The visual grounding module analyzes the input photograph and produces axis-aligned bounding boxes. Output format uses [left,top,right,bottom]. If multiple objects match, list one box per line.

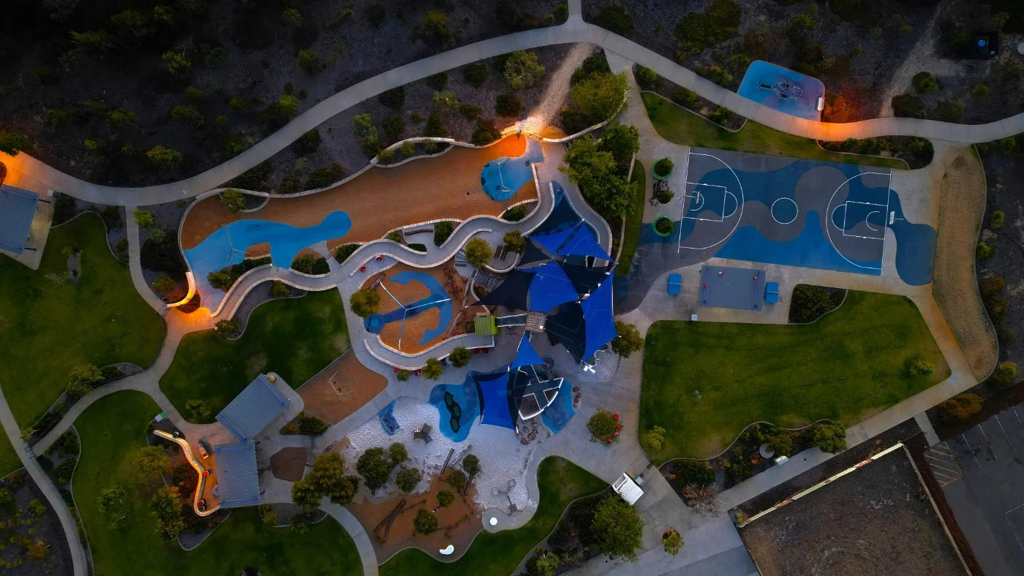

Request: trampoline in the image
[444,391,461,434]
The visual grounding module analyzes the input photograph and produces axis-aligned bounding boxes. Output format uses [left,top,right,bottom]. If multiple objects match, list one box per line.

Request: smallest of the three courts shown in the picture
[714,210,883,275]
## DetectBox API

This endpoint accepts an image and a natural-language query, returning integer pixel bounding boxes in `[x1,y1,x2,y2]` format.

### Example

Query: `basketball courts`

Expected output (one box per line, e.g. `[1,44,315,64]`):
[714,210,883,275]
[616,146,891,317]
[636,159,937,285]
